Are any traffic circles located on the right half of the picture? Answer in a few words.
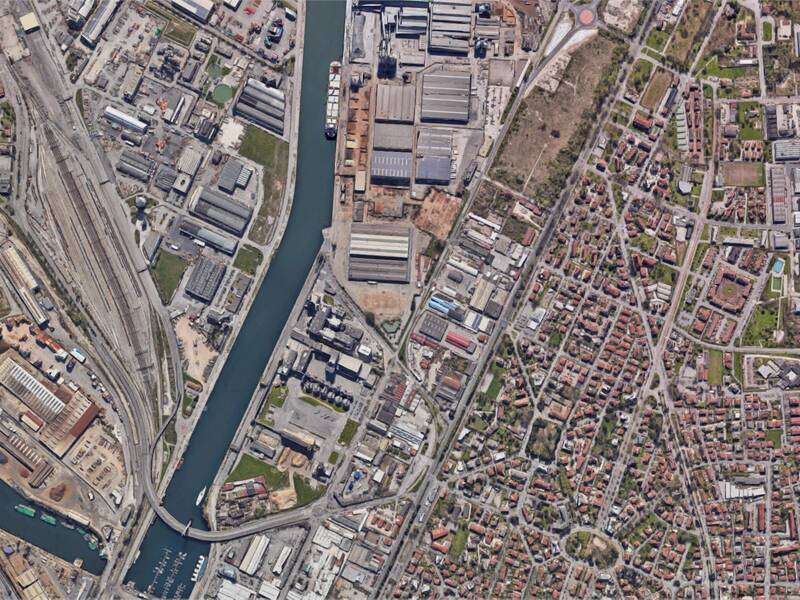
Yes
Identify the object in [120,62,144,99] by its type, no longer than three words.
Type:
building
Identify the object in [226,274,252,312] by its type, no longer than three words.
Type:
building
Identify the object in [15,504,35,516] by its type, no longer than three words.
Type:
ship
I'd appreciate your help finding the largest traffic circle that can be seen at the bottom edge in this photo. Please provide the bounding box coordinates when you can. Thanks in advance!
[561,526,623,573]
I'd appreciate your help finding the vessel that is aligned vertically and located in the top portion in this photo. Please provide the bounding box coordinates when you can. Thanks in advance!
[324,61,341,138]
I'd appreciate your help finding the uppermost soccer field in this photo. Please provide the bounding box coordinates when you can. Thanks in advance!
[641,66,673,109]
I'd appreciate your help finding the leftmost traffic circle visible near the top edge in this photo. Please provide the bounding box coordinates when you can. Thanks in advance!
[560,0,635,51]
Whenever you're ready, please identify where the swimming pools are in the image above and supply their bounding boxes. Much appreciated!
[772,257,786,277]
